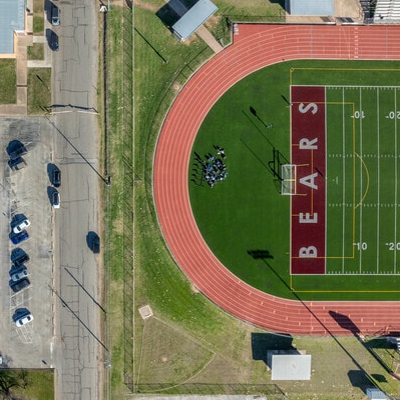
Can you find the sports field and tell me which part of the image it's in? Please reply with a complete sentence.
The sports field is in the right part of the image.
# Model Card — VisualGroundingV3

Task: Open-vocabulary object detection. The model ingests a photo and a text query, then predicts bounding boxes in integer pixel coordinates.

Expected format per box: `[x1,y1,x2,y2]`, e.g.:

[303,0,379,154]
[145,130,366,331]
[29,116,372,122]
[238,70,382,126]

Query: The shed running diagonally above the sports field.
[171,0,217,44]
